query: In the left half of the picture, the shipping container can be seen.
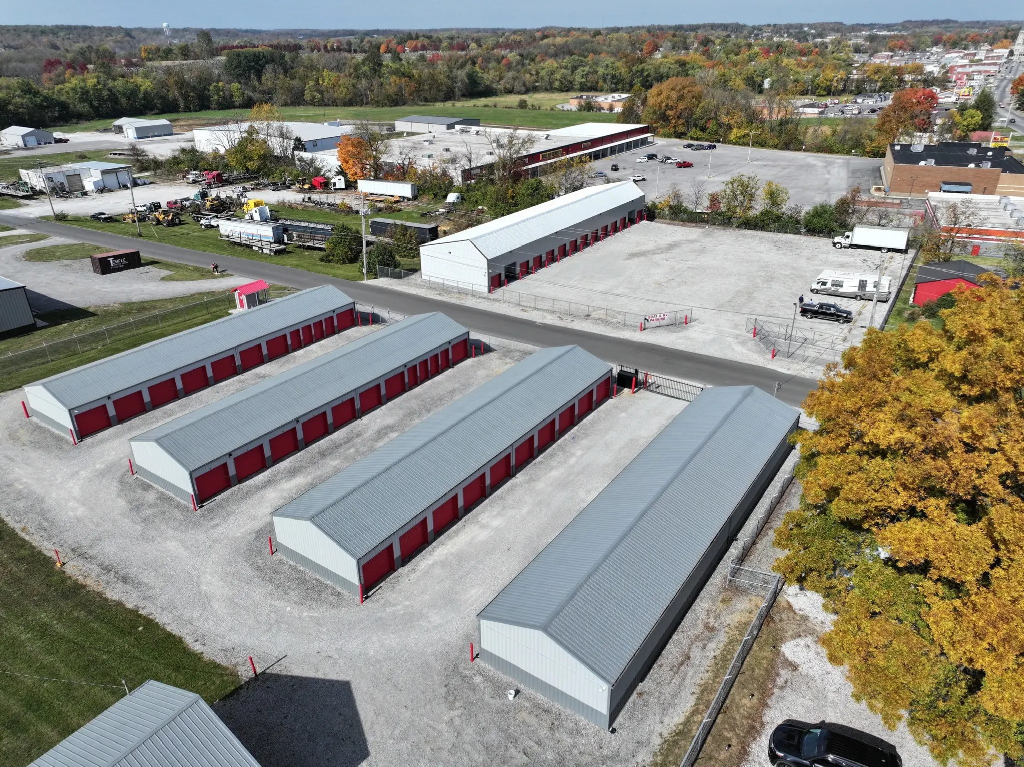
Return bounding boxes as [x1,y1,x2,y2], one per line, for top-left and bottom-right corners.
[91,246,141,274]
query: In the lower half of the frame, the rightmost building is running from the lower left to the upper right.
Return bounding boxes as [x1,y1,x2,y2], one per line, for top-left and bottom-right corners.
[475,385,800,729]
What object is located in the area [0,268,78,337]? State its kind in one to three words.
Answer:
barn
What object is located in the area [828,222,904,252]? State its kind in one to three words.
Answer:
truck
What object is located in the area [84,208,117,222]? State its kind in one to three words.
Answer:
vehicle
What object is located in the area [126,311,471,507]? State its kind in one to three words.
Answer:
building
